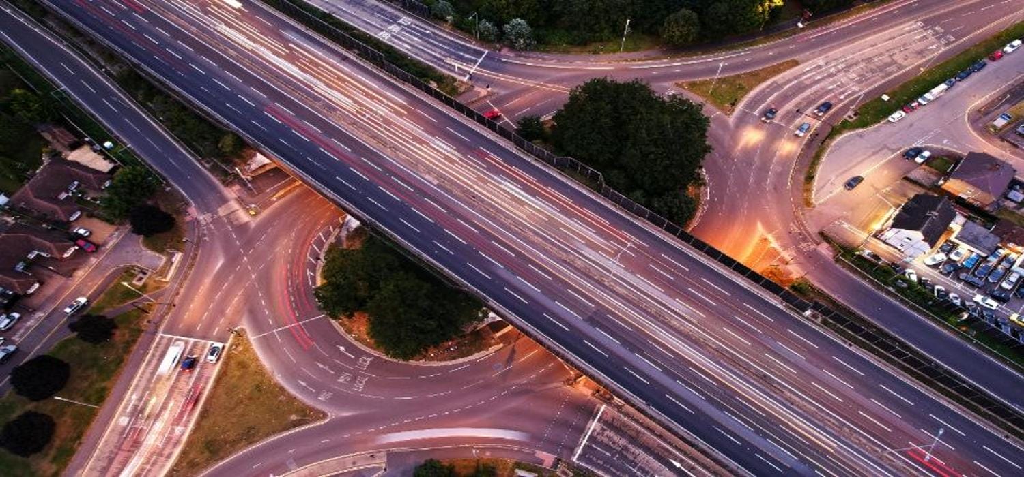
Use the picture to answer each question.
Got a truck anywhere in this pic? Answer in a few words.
Yes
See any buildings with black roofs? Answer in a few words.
Yes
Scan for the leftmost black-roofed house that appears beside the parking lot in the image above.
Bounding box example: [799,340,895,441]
[882,193,957,249]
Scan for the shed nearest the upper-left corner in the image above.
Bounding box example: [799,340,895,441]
[38,125,85,157]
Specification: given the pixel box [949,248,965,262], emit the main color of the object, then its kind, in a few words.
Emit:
white car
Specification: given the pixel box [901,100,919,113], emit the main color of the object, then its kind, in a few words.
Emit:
red vehicle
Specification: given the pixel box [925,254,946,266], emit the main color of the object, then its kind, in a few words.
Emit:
white vehicle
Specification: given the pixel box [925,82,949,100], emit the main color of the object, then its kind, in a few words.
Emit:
white vehicle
